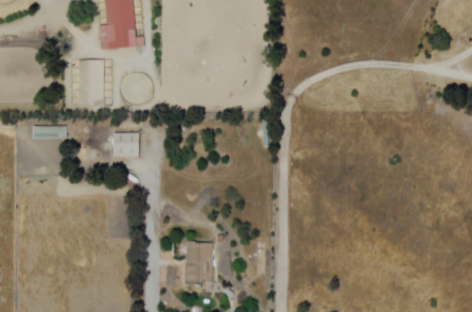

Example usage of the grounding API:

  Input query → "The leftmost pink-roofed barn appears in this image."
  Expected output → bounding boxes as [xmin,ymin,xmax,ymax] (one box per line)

[99,0,146,48]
